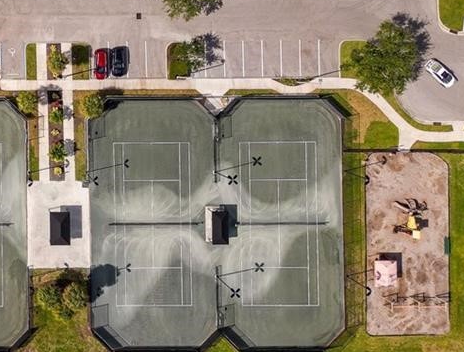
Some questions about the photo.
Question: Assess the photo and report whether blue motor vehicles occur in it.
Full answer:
No, this view has no blue motor vehicle in it.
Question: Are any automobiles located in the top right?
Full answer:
Yes, an automobile shows up in the top right.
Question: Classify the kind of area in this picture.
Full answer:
This looks like a sports ground.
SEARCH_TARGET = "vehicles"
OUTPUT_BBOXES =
[112,44,128,78]
[95,46,110,80]
[426,59,460,88]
